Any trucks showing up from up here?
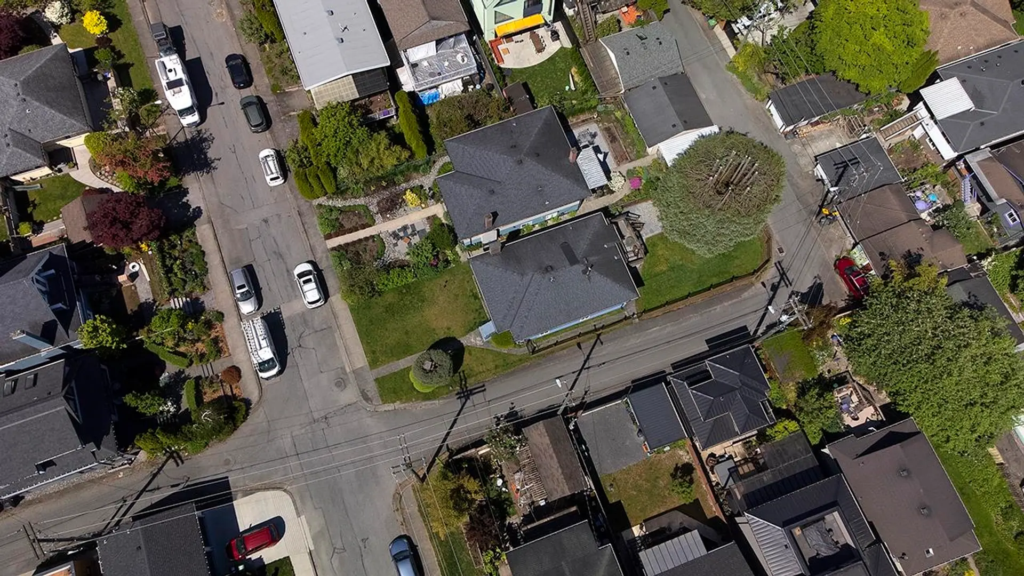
Yes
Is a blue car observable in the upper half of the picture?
No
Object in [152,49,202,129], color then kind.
white camper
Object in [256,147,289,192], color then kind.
white car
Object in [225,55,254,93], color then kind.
black car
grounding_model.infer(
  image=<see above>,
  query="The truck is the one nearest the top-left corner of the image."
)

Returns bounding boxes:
[142,13,179,56]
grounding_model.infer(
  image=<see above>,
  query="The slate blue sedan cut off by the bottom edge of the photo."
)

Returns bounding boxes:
[387,531,425,576]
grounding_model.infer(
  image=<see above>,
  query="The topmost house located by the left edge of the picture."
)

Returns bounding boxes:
[0,43,97,191]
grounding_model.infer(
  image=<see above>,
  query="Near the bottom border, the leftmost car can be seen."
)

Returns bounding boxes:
[227,517,286,558]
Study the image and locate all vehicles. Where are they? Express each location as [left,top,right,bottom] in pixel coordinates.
[256,147,289,192]
[387,531,425,576]
[227,517,286,558]
[229,267,261,316]
[232,312,285,387]
[239,95,271,138]
[142,13,179,56]
[829,254,878,311]
[293,260,328,312]
[152,49,202,129]
[225,55,254,93]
